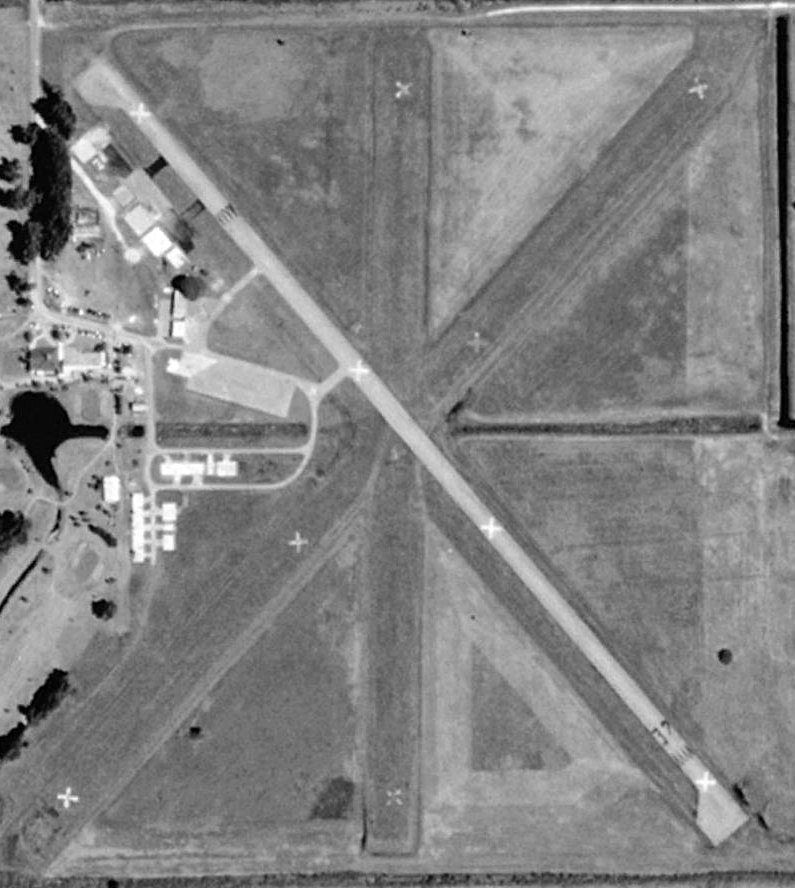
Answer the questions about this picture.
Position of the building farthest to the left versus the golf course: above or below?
above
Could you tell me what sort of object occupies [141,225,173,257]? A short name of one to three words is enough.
hangar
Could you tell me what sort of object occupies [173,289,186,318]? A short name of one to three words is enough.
building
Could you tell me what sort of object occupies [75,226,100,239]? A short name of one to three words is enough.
house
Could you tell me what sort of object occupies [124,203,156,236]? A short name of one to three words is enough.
hangar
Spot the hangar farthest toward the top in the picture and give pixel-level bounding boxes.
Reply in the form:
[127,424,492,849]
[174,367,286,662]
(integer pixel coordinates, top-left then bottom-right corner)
[71,138,96,162]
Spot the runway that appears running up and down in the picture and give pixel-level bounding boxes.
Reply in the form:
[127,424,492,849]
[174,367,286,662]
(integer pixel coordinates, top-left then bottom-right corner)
[362,28,429,853]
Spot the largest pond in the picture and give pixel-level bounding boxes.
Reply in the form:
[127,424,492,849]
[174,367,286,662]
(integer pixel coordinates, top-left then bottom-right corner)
[2,391,108,490]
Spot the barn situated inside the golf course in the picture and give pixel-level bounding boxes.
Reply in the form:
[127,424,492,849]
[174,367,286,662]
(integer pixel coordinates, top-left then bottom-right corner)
[103,475,120,502]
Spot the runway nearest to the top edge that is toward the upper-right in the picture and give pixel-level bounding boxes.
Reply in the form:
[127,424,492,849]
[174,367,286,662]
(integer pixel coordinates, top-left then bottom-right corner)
[405,29,762,414]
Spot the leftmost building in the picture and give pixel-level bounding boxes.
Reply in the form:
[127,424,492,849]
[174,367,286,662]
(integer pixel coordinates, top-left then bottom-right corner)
[30,348,56,370]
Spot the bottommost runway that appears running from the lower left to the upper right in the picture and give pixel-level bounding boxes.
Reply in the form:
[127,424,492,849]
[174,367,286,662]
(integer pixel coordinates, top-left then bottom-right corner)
[2,431,390,866]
